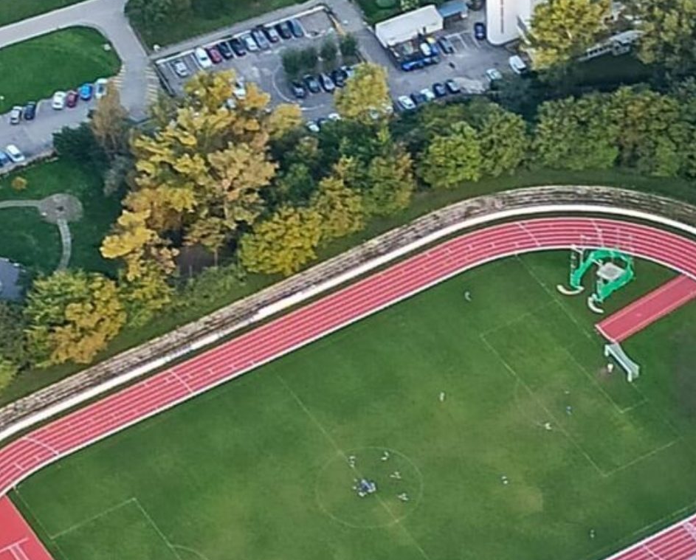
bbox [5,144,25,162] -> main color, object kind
white car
